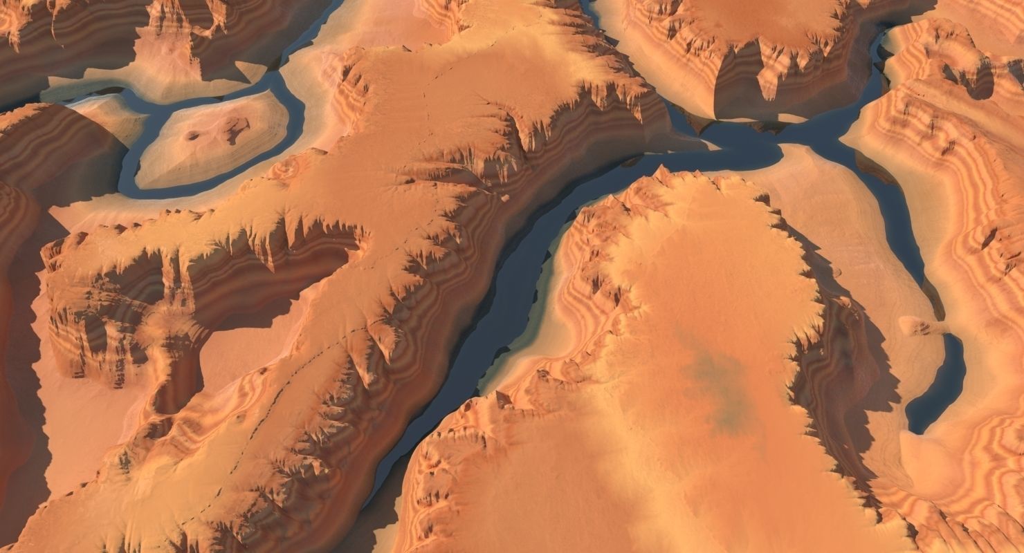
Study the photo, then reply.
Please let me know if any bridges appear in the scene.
No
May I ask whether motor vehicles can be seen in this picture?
No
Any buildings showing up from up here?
No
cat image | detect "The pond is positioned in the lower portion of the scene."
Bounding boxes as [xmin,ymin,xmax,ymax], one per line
[907,335,966,433]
